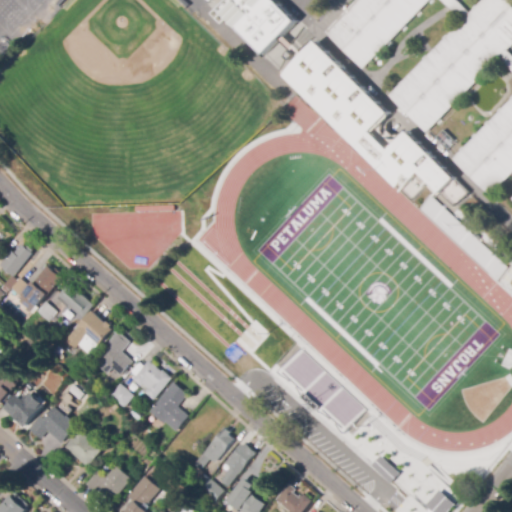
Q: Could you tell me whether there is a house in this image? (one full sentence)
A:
Yes, I can see a house in this picture.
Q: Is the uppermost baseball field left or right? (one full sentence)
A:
It is on the left.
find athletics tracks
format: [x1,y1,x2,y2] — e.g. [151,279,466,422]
[198,95,512,450]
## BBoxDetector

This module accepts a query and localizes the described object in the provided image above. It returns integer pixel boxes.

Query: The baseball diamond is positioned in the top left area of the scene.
[0,0,270,206]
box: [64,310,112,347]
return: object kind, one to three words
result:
house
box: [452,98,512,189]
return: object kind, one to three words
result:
building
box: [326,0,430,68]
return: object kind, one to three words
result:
building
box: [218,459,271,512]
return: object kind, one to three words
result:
house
